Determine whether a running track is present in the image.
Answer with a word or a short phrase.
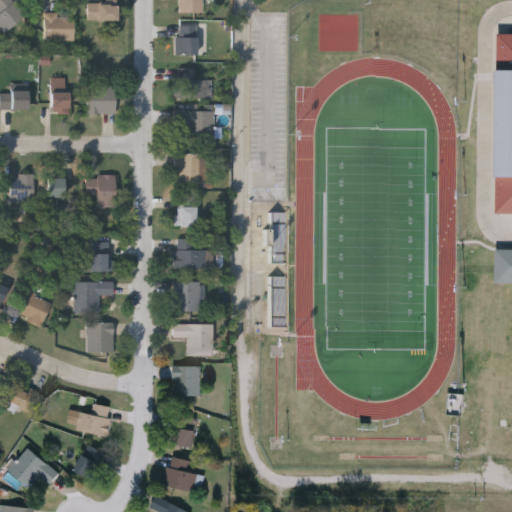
Yes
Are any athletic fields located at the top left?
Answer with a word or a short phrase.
No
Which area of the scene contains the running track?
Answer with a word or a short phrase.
right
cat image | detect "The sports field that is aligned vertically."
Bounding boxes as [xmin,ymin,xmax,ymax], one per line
[314,76,438,401]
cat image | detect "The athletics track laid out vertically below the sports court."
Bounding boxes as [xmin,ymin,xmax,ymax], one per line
[296,58,456,420]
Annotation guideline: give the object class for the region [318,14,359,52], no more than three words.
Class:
sports court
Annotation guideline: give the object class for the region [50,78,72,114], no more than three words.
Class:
house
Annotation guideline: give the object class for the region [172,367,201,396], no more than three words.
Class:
building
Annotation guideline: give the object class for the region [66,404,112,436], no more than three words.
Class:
house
